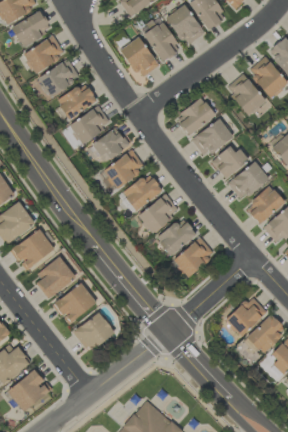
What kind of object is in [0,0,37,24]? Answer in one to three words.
house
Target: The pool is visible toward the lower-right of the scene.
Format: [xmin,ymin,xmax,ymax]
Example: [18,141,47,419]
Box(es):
[221,326,236,346]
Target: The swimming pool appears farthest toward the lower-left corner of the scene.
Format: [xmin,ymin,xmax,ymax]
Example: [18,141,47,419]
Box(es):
[99,304,116,328]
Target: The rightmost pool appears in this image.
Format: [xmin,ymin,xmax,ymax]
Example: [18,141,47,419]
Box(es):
[269,122,288,137]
